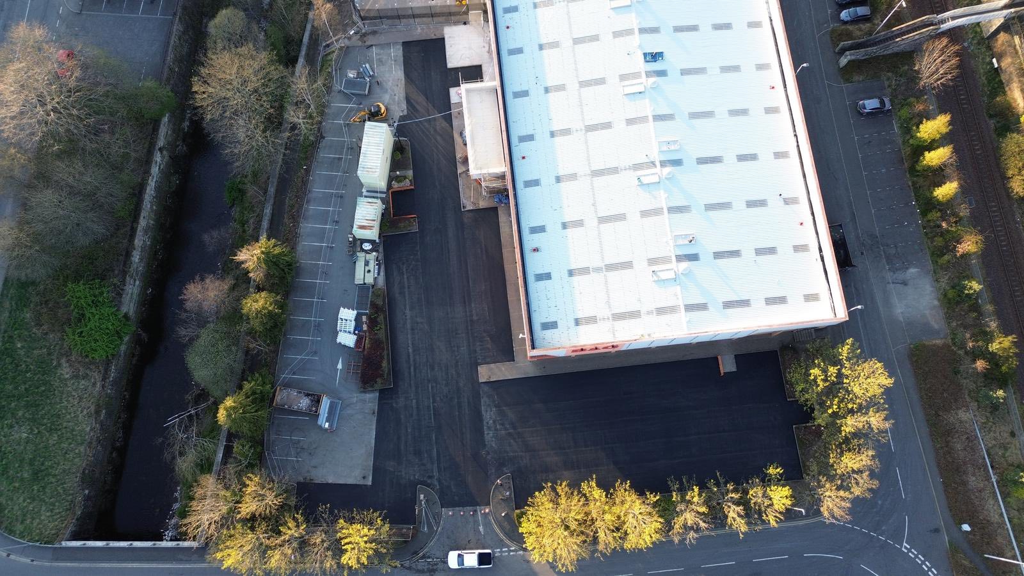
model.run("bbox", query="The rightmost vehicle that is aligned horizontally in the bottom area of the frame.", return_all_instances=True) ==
[447,548,495,571]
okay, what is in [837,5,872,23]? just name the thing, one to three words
car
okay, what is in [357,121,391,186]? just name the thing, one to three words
shipping container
